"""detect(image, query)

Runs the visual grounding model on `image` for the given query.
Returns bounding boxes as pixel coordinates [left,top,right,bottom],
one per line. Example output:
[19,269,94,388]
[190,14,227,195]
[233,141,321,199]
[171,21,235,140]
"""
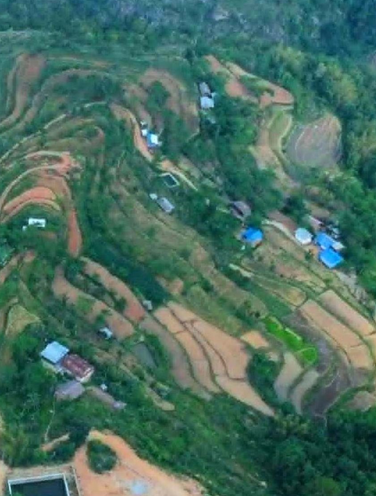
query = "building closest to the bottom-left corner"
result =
[57,382,84,403]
